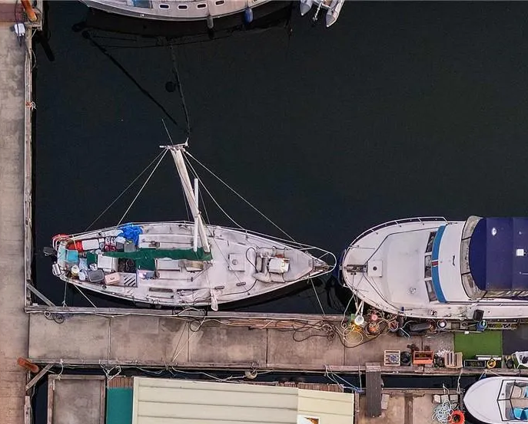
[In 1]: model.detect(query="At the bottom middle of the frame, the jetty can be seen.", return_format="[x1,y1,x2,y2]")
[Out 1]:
[32,286,528,390]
